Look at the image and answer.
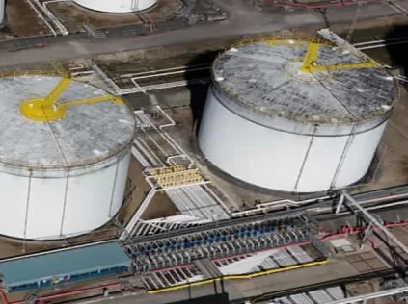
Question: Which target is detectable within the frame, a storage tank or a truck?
storage tank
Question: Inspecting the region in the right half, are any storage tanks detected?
Yes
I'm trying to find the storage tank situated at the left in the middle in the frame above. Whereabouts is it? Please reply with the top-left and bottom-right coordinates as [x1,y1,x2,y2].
[0,69,137,243]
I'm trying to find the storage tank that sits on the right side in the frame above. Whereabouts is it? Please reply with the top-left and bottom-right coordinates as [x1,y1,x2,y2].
[195,35,400,194]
